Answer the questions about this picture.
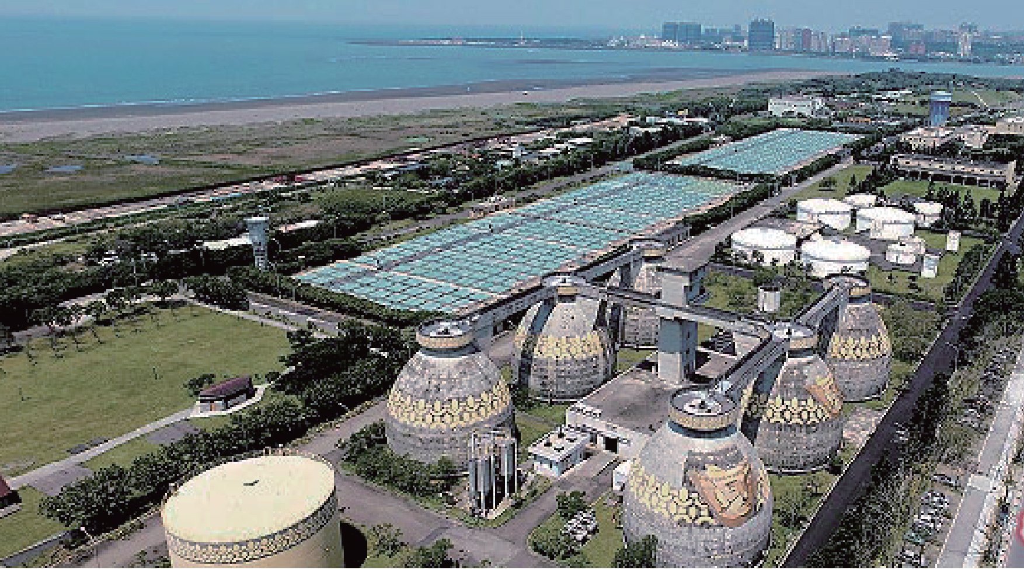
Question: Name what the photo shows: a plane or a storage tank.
storage tank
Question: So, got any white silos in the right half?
Yes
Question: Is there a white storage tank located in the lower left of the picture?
Yes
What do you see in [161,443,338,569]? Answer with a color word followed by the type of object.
white storage tank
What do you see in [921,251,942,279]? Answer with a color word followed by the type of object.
white silo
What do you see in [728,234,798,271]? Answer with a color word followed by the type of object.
white storage tank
